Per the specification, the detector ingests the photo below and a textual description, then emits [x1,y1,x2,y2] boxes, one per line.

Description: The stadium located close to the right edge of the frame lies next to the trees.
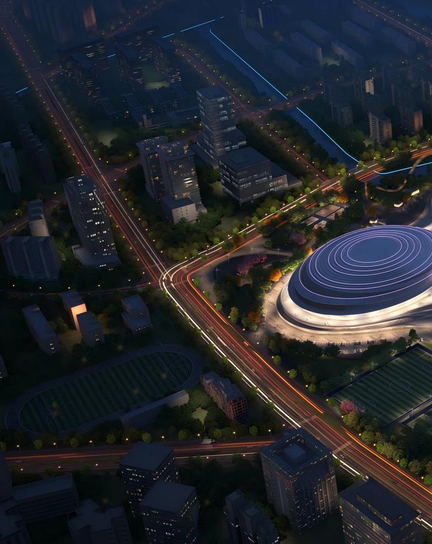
[288,225,432,316]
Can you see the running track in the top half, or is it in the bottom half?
bottom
